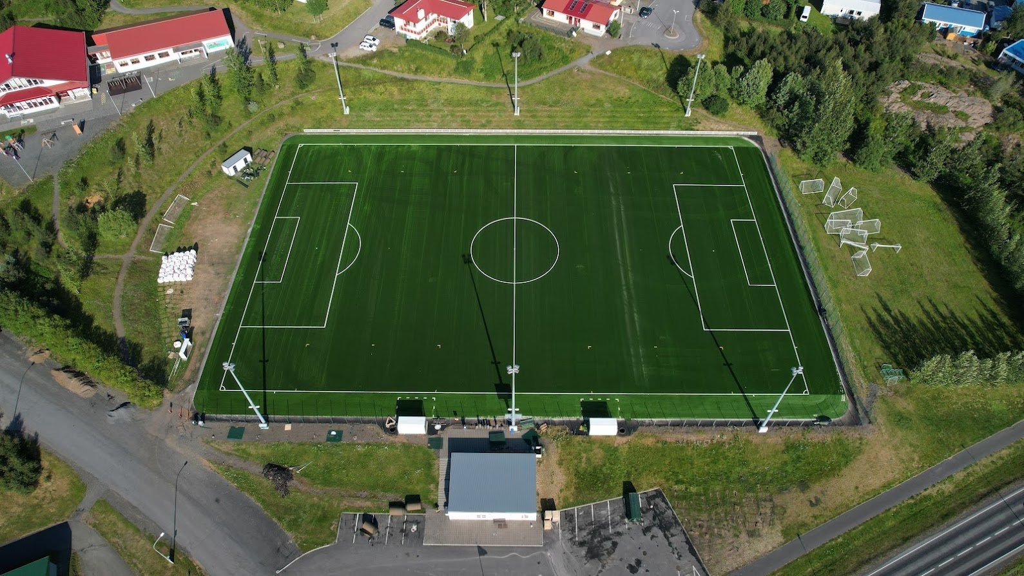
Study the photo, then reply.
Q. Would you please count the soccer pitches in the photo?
1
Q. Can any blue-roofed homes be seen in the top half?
Yes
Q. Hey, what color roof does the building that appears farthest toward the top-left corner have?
red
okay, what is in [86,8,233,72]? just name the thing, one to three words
building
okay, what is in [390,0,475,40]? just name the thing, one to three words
house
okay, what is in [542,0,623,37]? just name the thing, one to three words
house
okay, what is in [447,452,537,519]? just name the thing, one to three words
building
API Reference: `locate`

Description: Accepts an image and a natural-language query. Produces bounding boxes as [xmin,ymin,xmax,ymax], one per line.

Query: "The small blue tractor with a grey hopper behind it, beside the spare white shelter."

[177,318,194,344]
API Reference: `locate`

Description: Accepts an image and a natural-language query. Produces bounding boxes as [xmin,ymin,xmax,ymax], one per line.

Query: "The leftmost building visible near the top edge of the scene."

[0,25,97,123]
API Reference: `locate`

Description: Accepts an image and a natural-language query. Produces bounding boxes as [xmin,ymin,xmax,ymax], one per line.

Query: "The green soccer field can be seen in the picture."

[190,134,866,436]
